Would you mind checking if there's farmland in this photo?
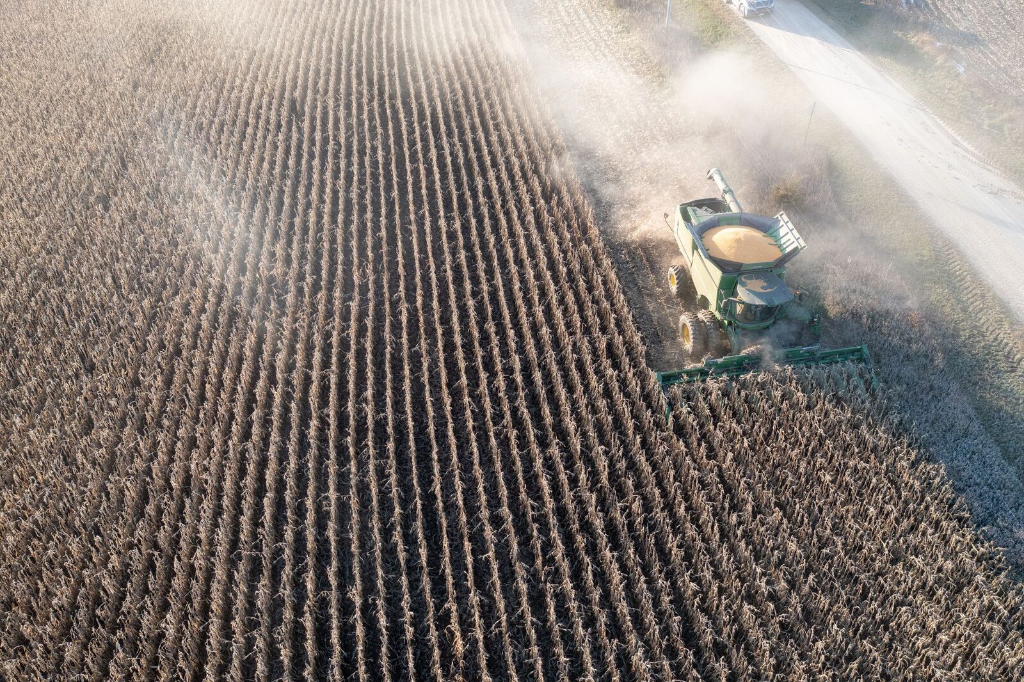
Yes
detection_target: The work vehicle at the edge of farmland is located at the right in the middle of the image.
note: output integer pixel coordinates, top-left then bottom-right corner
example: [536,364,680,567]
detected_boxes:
[656,165,887,422]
